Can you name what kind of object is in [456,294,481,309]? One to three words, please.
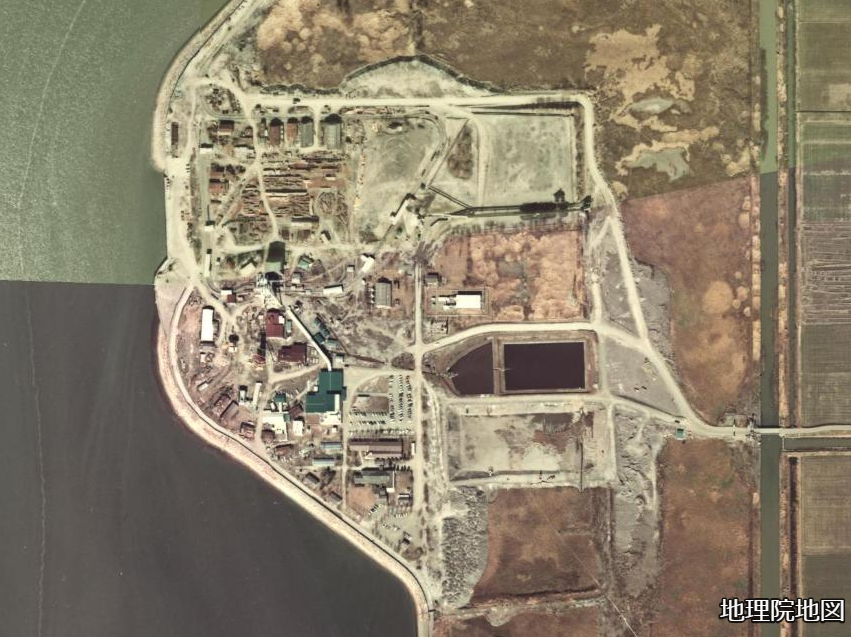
building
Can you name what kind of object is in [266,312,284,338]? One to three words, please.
building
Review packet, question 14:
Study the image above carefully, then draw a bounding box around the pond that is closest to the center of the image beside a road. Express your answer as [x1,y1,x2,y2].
[448,343,494,394]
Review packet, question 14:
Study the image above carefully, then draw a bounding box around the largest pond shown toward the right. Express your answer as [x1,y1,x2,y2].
[504,343,585,390]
